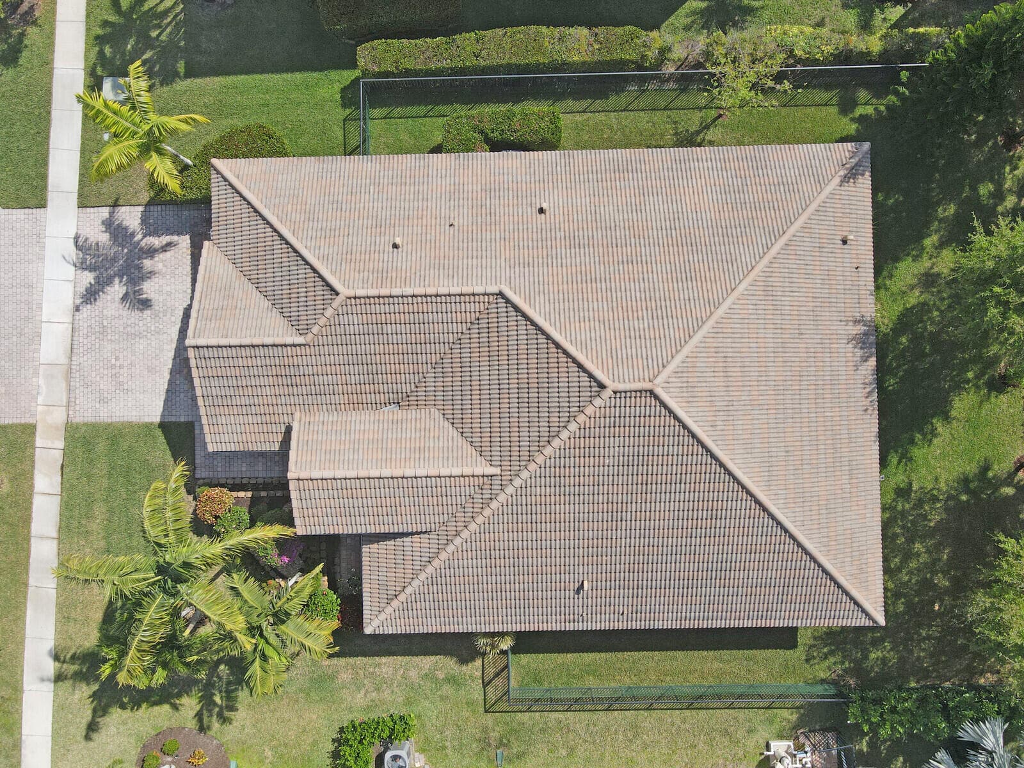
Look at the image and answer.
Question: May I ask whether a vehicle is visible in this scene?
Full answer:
No, no vehicle can be seen from above.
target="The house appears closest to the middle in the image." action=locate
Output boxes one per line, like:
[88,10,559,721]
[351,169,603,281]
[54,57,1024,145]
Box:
[180,138,889,639]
